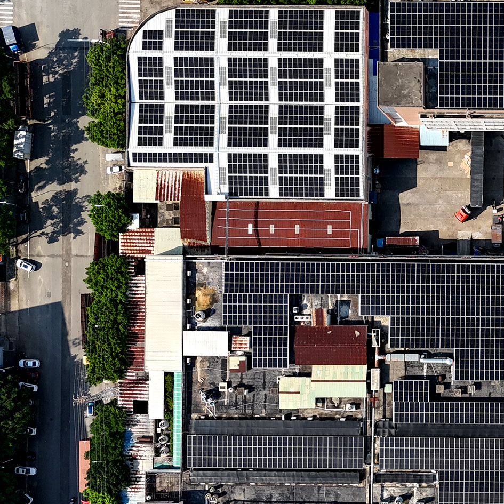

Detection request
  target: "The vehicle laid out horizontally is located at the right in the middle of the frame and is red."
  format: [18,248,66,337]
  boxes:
[377,236,420,248]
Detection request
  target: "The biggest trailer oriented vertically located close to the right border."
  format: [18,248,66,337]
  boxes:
[471,131,484,208]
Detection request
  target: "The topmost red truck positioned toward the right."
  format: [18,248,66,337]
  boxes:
[452,202,477,225]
